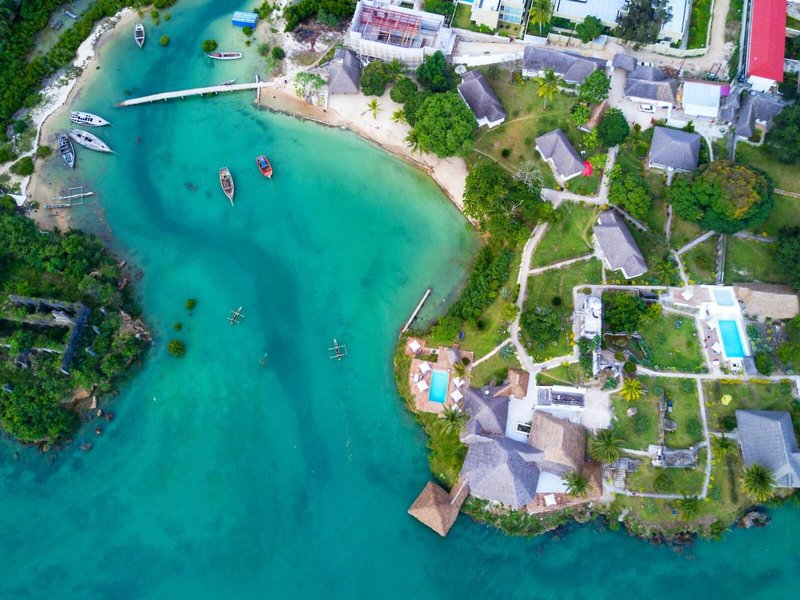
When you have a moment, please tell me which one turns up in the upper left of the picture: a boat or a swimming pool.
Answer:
boat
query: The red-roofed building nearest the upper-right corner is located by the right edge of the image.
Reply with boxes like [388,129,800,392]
[741,0,787,88]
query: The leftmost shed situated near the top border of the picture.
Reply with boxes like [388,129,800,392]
[233,11,259,30]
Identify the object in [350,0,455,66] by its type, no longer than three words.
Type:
building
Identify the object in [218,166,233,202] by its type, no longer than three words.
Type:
boat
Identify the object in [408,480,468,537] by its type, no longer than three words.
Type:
gazebo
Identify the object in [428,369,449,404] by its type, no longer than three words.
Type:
swimming pool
